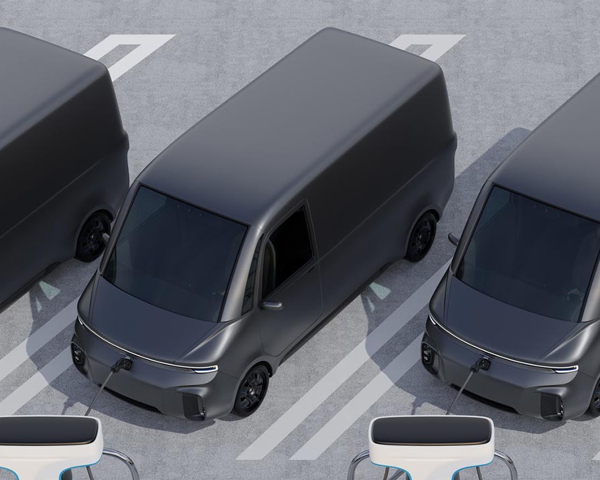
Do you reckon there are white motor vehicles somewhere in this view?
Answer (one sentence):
No, there appears to be no white motor vehicle in this shot.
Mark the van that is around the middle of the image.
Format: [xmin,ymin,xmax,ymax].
[66,29,456,426]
